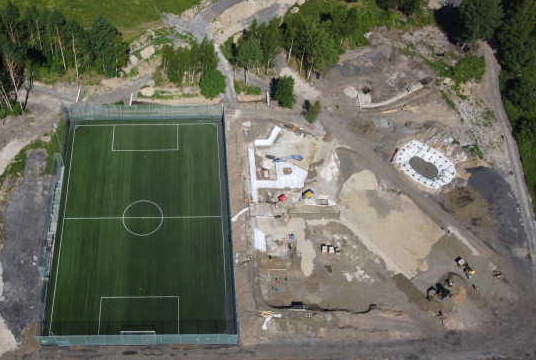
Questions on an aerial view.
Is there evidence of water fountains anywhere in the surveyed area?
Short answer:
No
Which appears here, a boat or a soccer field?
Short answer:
soccer field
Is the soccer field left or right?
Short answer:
left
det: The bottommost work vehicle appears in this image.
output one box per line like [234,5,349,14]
[428,285,453,299]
